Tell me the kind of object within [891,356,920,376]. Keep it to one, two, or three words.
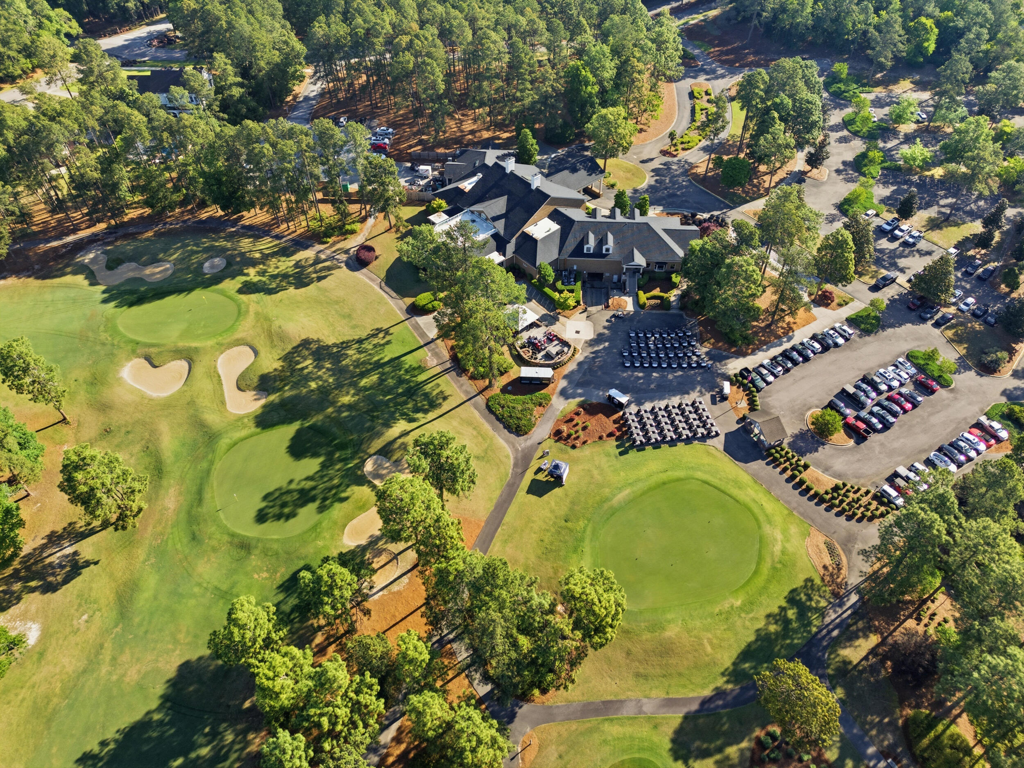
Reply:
car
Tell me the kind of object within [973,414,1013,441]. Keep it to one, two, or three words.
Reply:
truck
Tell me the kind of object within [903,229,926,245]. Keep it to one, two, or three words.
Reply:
vehicle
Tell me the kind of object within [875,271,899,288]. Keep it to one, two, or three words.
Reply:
vehicle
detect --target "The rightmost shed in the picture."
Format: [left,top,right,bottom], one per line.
[743,410,788,453]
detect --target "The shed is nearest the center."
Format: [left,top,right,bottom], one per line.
[520,367,554,387]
